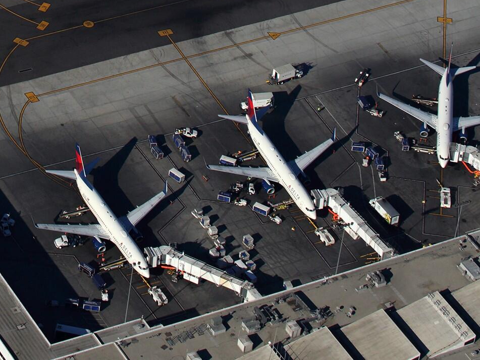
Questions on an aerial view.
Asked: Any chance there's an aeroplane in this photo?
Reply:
Yes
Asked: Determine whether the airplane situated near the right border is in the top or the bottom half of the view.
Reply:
top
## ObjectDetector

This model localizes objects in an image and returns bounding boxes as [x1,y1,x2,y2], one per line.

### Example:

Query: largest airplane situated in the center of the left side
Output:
[36,147,170,281]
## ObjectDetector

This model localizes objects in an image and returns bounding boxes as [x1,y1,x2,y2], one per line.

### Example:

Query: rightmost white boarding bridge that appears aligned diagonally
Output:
[319,189,396,261]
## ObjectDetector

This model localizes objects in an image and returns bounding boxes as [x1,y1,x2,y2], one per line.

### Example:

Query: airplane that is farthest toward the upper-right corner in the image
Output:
[377,46,480,171]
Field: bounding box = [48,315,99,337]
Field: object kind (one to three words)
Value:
bus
